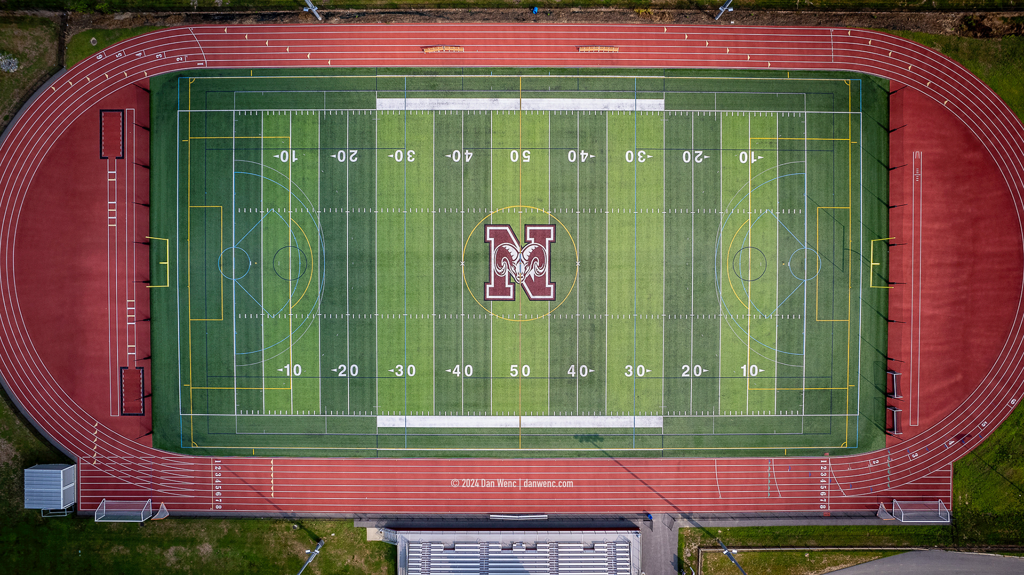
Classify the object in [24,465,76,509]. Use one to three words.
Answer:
shed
